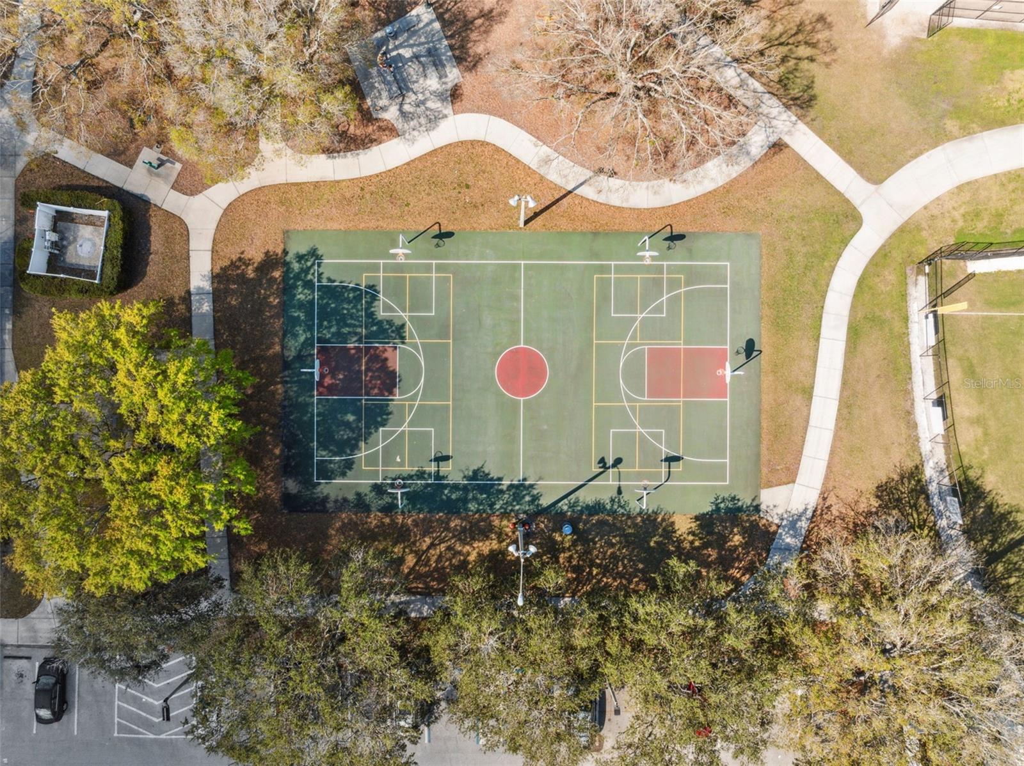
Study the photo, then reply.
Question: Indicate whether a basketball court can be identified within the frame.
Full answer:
Yes, a basketball court appears in the view.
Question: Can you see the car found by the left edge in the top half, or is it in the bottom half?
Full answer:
The bottom half of the photo is where the car found by the left edge is.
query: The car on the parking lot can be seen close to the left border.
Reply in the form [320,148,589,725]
[30,661,67,727]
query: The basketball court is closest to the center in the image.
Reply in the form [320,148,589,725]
[283,230,761,514]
